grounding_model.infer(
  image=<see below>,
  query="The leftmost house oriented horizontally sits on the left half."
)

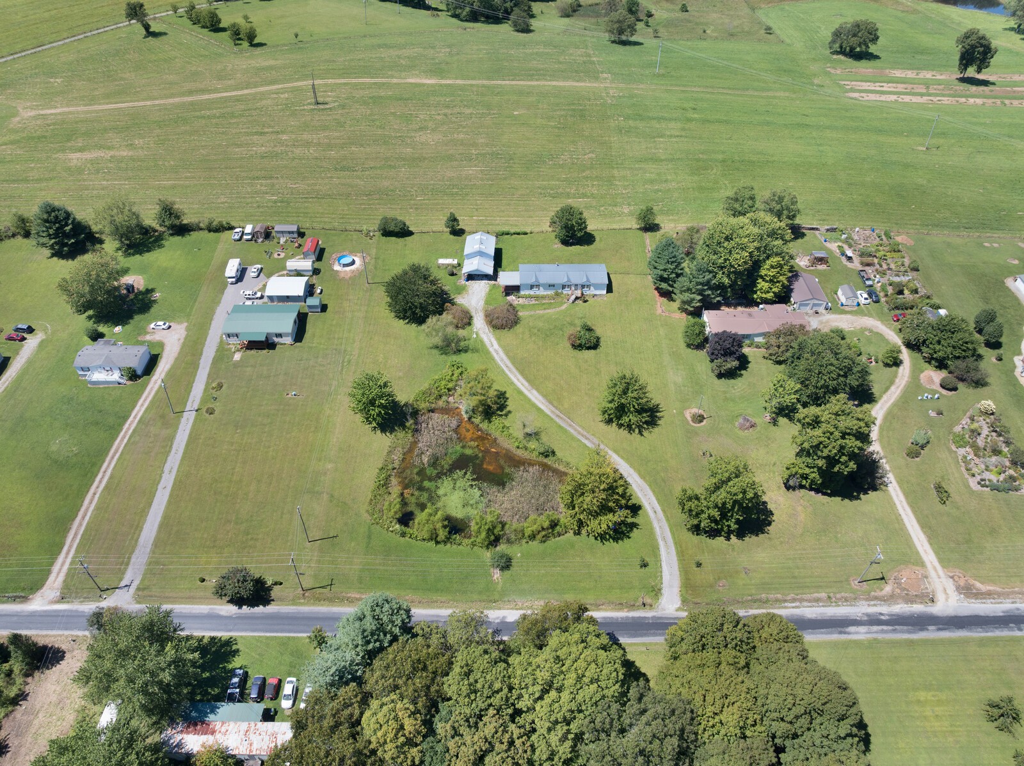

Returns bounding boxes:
[73,344,155,376]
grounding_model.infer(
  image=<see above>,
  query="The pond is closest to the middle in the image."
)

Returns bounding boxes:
[396,411,567,538]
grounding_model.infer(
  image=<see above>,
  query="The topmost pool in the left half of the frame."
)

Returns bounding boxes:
[335,256,355,271]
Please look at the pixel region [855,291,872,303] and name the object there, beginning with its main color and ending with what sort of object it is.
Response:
white vehicle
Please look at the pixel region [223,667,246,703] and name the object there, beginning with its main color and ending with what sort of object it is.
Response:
black truck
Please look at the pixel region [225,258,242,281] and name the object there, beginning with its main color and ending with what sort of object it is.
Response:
white camper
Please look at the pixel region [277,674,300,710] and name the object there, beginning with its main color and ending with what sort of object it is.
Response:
white car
